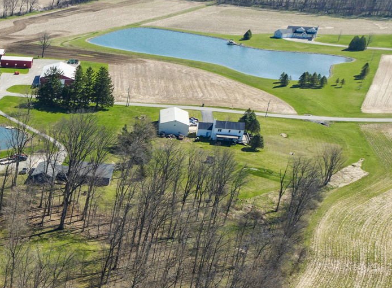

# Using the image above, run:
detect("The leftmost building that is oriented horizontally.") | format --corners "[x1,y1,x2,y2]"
[0,53,33,68]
